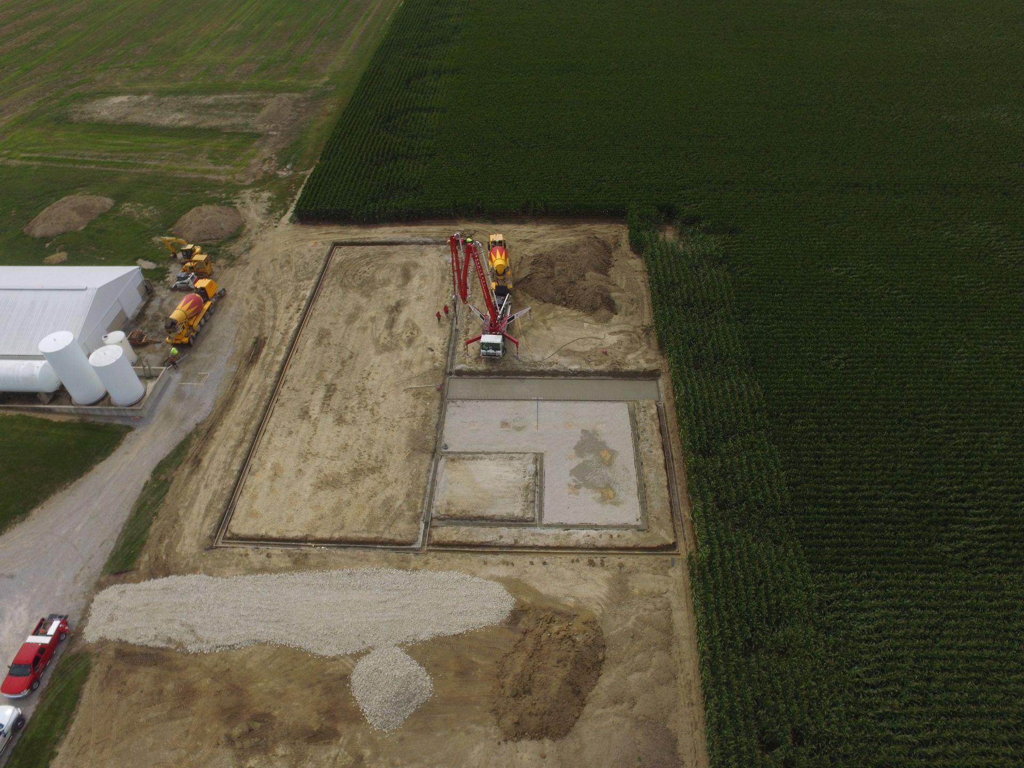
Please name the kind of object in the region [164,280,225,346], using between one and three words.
truck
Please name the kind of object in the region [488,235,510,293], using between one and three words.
truck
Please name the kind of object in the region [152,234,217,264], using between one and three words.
work vehicle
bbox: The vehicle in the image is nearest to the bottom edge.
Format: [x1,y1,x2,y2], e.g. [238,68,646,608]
[0,706,28,763]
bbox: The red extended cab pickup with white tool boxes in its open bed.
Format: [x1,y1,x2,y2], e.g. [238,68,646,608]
[5,620,70,699]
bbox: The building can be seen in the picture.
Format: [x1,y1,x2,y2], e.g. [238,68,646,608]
[0,266,154,371]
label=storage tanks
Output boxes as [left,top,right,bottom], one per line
[89,346,145,407]
[39,332,106,405]
[102,329,141,366]
[0,364,69,400]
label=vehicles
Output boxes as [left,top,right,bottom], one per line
[175,257,216,280]
[152,234,217,264]
[0,706,28,763]
[5,620,70,699]
[488,235,510,293]
[168,270,197,290]
[450,229,533,360]
[164,280,225,346]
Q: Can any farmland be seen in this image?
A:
Yes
